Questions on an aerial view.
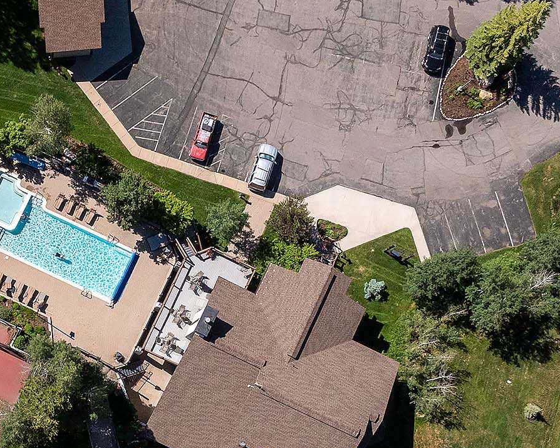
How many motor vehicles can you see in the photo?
3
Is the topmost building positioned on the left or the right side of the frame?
left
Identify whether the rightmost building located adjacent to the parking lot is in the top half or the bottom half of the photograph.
bottom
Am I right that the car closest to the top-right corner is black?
Yes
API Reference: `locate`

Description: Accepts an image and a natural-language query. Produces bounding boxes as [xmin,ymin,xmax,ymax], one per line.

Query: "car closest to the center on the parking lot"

[251,141,281,192]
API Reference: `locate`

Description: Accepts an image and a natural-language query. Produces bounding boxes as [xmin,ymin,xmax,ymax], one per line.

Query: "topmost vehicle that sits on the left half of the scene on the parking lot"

[190,107,223,162]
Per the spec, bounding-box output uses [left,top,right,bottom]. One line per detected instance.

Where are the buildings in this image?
[147,258,399,448]
[39,0,104,60]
